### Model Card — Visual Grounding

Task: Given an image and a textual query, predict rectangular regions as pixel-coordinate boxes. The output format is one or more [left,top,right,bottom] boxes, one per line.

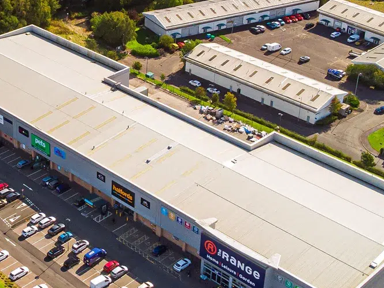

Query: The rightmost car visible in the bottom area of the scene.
[173,260,191,272]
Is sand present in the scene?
No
